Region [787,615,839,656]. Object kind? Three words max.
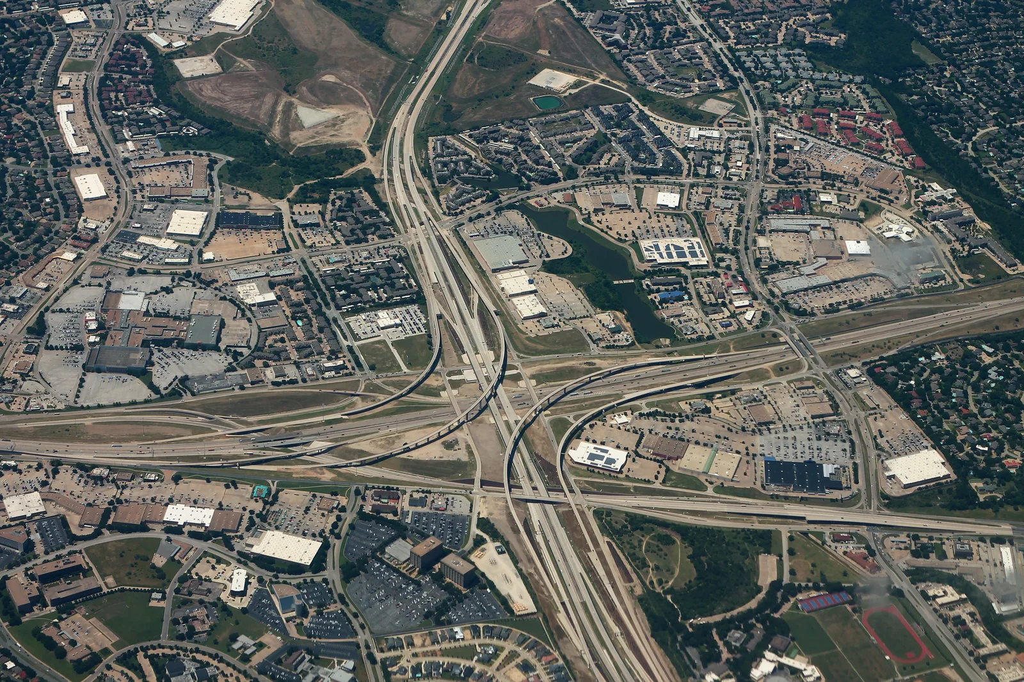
sports field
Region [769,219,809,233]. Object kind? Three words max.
building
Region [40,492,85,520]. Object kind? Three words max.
building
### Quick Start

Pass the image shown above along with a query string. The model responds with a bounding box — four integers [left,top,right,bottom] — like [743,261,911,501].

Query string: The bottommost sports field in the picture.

[811,652,861,682]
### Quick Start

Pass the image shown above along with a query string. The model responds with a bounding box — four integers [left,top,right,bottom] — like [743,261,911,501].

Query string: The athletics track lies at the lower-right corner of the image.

[863,604,940,667]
